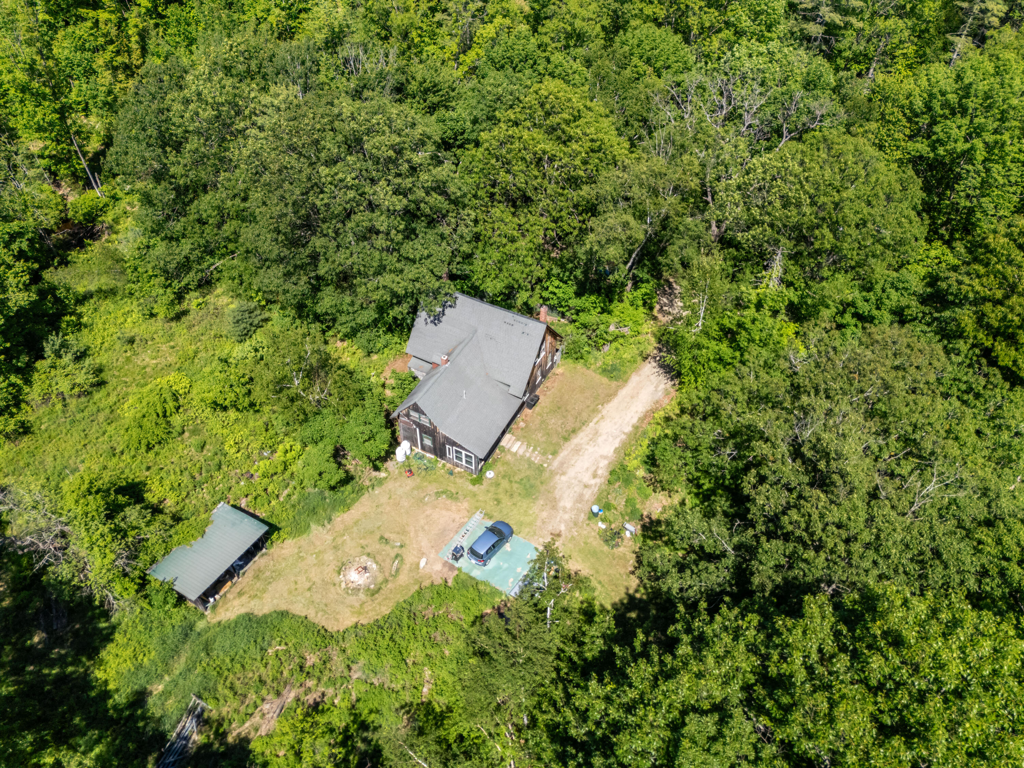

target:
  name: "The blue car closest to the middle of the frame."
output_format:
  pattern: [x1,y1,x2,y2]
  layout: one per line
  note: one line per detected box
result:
[464,521,514,568]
